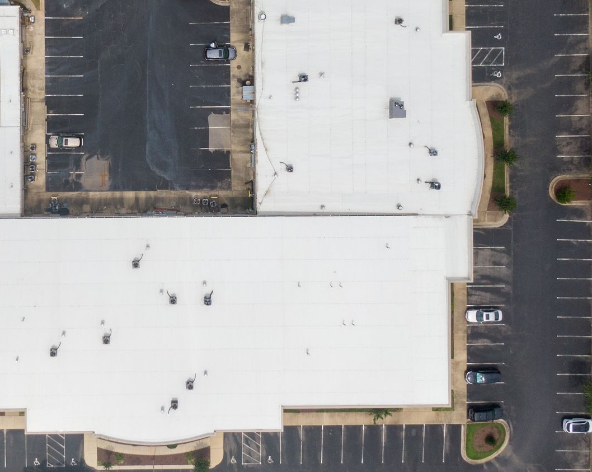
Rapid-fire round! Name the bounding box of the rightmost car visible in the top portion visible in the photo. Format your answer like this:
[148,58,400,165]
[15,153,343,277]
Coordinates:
[205,40,236,61]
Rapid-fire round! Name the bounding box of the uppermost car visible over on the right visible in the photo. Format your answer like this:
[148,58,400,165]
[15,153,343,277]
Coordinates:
[464,308,503,324]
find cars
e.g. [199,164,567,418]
[562,417,592,434]
[464,308,503,324]
[49,132,84,149]
[205,40,236,61]
[464,368,503,386]
[467,405,502,423]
